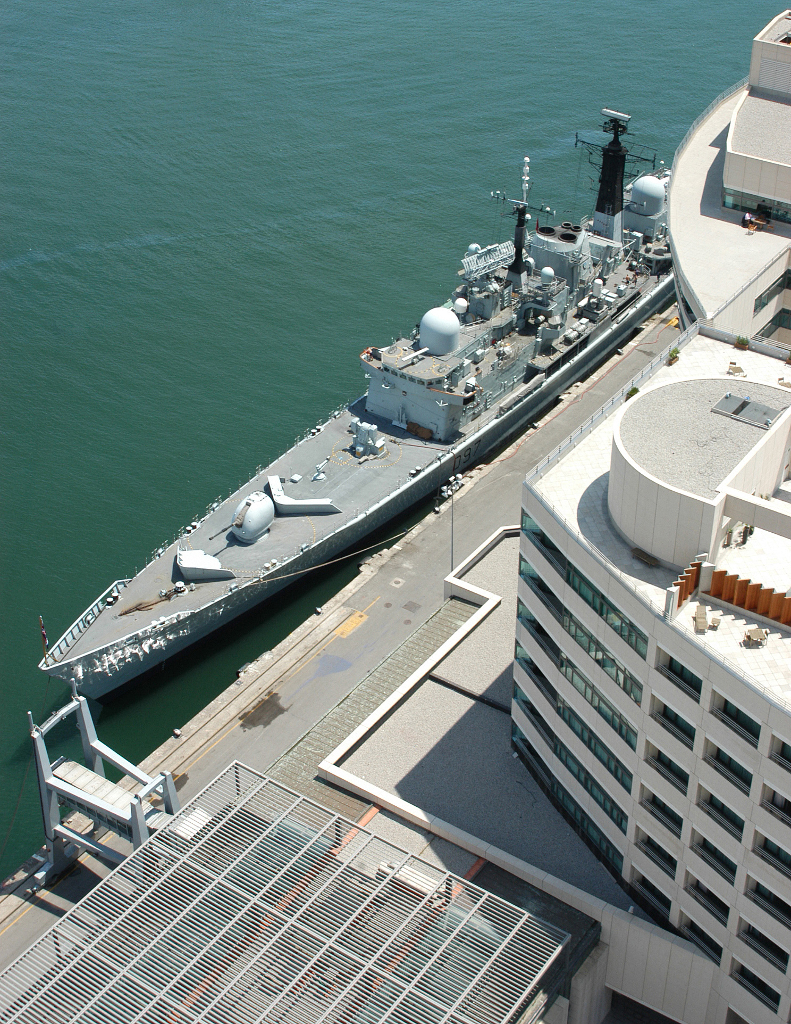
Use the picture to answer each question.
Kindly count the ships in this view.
1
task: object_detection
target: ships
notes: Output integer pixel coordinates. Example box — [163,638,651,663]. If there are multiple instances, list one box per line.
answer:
[35,107,673,706]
